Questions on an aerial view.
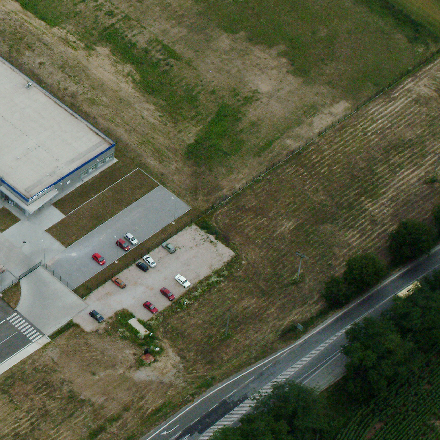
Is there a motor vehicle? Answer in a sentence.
Yes, the photo shows a motor vehicle.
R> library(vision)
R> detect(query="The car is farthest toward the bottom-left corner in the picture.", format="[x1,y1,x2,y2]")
[88,310,104,323]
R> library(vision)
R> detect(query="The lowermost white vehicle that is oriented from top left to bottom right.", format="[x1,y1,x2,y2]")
[174,275,191,288]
